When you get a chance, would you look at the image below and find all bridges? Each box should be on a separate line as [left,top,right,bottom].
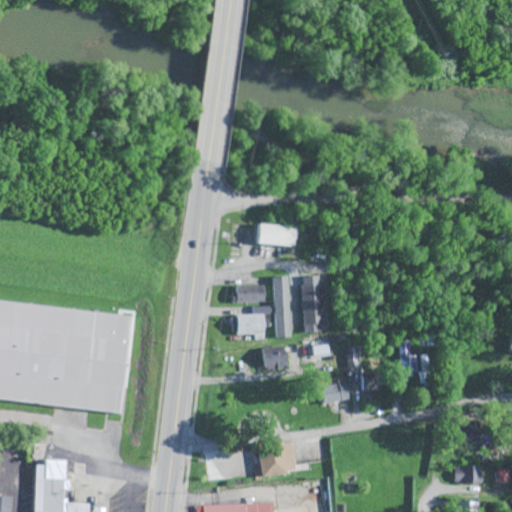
[197,0,249,154]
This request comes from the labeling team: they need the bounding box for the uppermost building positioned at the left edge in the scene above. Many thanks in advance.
[0,294,135,414]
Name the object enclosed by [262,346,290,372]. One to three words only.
house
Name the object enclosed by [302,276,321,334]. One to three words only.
building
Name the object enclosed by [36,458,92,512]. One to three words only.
building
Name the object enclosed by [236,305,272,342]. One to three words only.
house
